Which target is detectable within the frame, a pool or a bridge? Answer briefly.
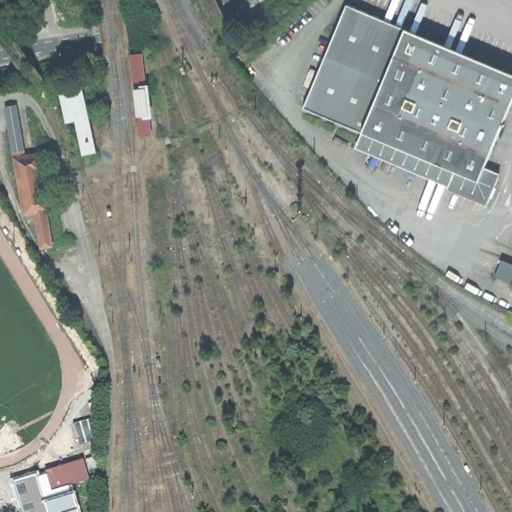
bridge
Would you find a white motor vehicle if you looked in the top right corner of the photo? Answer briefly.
Yes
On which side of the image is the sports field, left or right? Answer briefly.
left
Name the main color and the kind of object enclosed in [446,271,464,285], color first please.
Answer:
white vehicle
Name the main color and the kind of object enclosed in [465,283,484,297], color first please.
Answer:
white vehicle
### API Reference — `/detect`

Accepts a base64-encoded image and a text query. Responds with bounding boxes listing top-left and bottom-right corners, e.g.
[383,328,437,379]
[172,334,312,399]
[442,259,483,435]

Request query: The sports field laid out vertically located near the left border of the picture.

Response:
[0,228,86,468]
